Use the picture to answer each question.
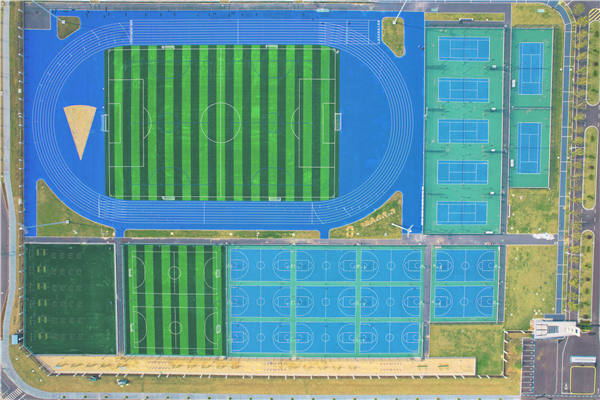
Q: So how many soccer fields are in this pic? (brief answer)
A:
3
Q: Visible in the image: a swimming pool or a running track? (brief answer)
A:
running track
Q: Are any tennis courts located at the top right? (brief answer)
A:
Yes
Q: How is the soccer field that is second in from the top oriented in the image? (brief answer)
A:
from left to right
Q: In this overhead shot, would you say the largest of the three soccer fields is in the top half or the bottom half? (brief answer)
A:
top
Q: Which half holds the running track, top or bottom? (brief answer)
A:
top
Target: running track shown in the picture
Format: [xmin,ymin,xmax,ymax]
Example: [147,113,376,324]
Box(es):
[24,9,425,238]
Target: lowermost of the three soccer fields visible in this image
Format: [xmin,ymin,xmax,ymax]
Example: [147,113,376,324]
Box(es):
[131,303,220,351]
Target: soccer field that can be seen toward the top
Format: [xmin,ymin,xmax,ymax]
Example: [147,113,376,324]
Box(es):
[104,45,340,200]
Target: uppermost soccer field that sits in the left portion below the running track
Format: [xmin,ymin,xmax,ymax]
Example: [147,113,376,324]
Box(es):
[130,249,220,297]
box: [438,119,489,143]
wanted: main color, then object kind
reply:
blue tennis court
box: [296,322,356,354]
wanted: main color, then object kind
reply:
blue basketball court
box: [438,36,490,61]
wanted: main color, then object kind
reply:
blue tennis court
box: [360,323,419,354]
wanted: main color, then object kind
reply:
blue basketball court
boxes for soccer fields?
[131,303,220,351]
[104,45,340,200]
[130,249,220,297]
